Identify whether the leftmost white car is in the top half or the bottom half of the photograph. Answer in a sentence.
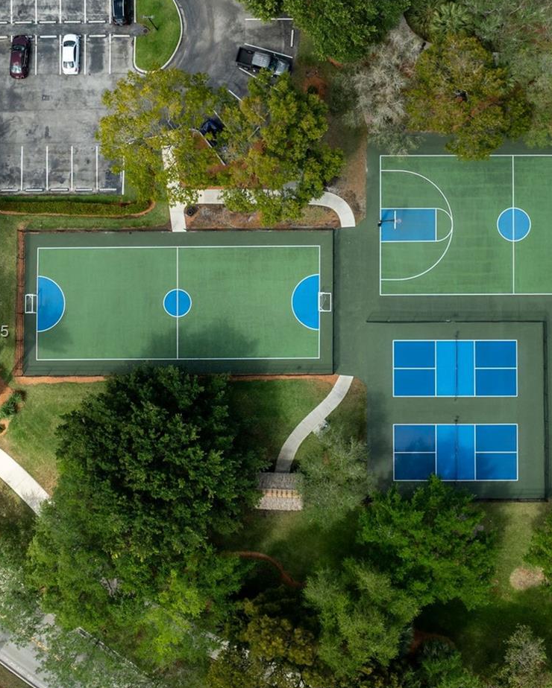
It is in the top half that the leftmost white car appears.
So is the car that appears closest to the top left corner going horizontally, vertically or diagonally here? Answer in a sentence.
In this picture, the car that appears closest to the top left corner is oriented vertically.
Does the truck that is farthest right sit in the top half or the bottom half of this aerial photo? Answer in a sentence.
It is in the top half that the truck that is farthest right appears.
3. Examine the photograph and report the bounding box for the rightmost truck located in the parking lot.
[234,44,290,78]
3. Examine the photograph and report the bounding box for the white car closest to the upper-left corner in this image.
[59,34,82,76]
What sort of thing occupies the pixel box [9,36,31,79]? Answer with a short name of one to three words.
car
